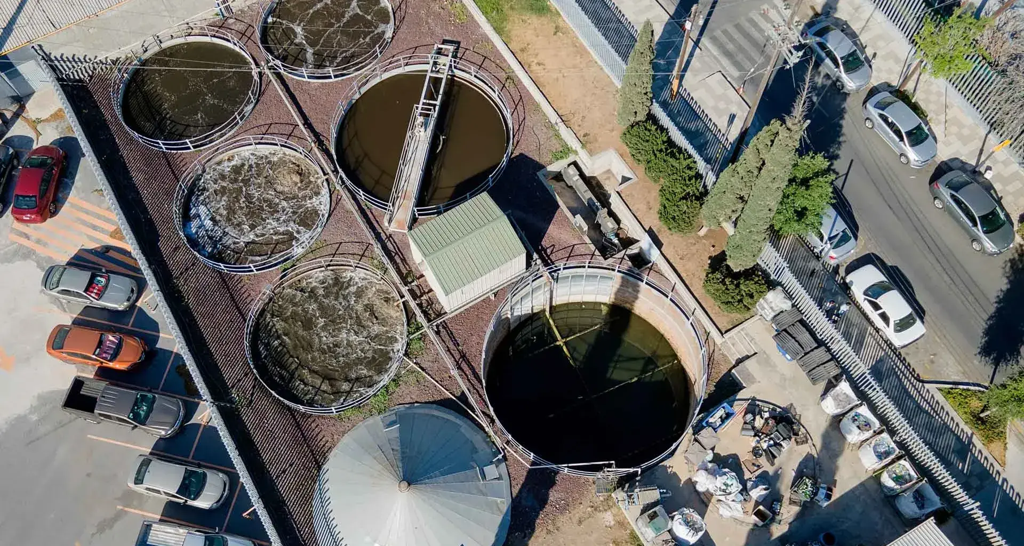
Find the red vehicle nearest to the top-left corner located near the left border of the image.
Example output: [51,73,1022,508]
[16,148,73,226]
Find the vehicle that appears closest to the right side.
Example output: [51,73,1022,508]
[927,167,1015,256]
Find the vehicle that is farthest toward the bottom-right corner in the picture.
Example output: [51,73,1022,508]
[844,264,929,350]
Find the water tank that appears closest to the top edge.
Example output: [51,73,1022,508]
[253,0,392,84]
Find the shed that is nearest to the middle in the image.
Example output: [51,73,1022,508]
[407,192,527,315]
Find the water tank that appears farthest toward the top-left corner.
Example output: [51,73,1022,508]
[112,24,260,154]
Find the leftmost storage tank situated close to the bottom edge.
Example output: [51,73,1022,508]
[313,404,511,546]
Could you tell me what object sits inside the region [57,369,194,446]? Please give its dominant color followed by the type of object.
gray truck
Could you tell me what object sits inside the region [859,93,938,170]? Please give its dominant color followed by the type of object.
gray car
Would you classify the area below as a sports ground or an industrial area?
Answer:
industrial area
